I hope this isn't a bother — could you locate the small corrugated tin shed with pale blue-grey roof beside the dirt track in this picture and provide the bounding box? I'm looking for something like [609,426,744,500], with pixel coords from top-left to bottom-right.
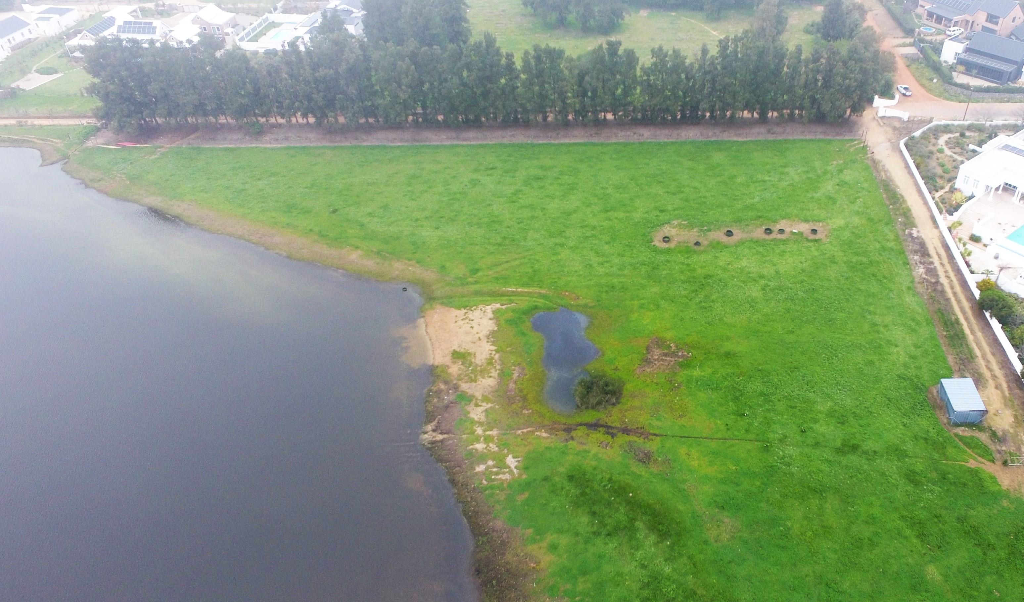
[934,375,989,430]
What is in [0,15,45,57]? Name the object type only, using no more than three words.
house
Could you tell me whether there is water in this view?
Yes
